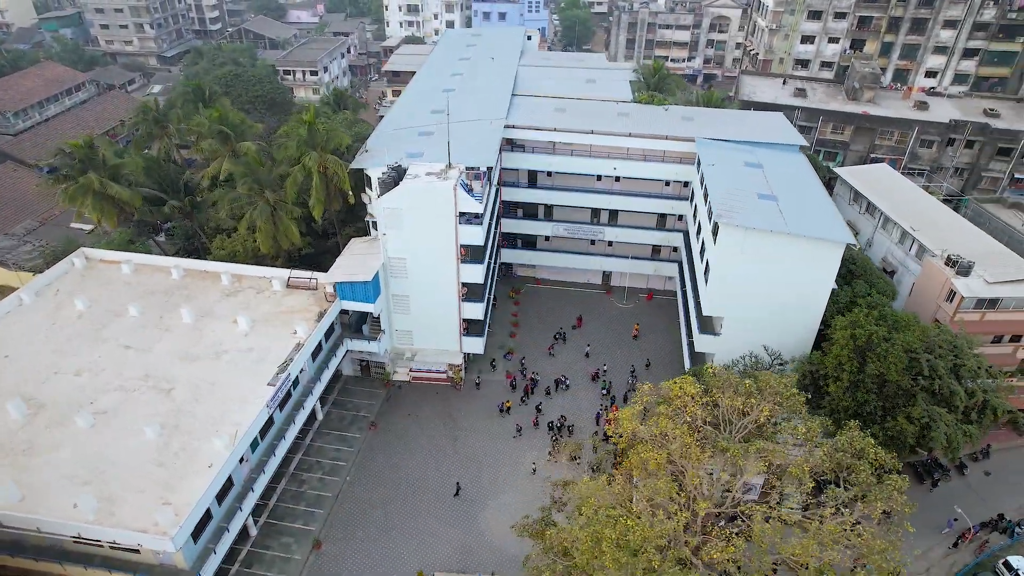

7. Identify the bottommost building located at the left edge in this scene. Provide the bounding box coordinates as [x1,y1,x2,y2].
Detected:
[0,249,355,576]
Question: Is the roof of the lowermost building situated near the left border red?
No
